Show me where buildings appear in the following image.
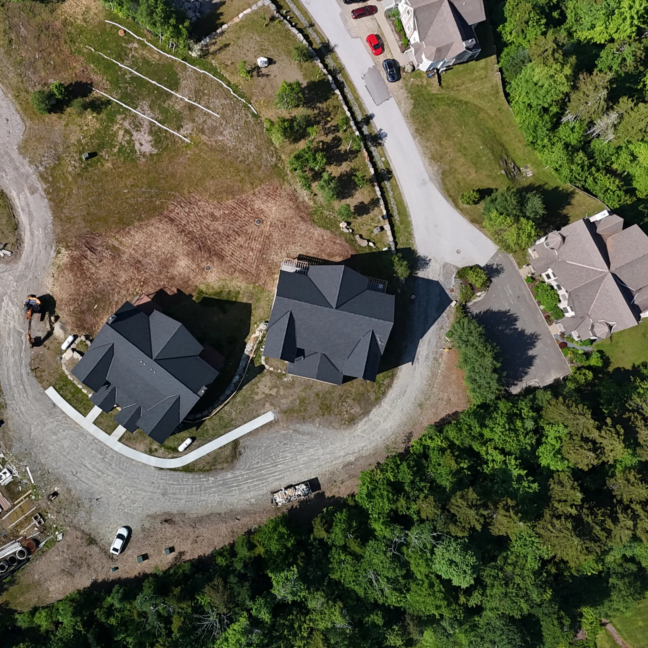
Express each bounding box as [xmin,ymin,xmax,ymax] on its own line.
[519,210,648,340]
[380,0,486,73]
[71,292,226,444]
[264,258,394,387]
